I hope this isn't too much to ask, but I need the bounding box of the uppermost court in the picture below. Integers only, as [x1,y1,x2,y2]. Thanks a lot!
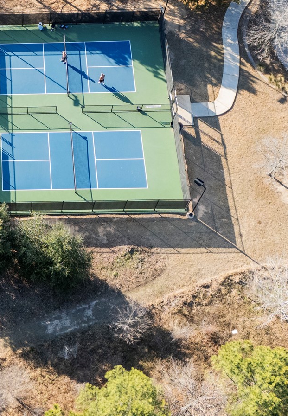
[0,41,136,94]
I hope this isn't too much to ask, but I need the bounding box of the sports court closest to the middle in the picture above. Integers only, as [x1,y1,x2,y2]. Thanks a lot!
[1,131,148,191]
